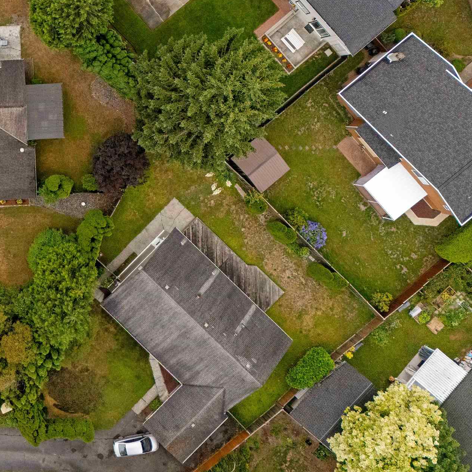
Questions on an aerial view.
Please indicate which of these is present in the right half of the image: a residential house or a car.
residential house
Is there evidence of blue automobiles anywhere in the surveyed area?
No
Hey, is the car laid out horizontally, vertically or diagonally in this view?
horizontally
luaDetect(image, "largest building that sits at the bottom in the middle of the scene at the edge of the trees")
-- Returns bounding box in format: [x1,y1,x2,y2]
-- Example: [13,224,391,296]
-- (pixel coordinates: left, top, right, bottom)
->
[101,228,293,464]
